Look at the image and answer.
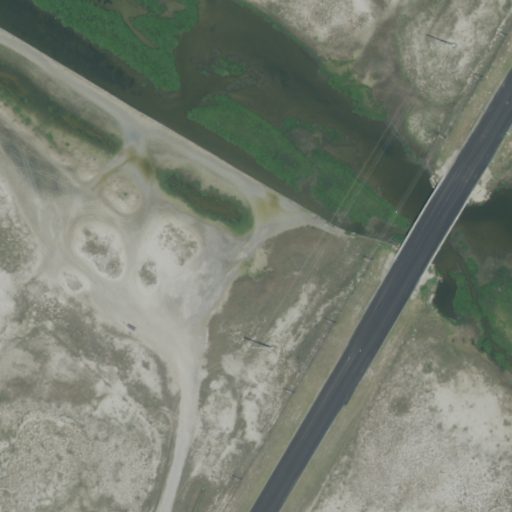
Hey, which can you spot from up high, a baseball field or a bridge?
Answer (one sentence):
There is a bridge in the scene.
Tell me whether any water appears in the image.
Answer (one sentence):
Yes, the picture does contain water.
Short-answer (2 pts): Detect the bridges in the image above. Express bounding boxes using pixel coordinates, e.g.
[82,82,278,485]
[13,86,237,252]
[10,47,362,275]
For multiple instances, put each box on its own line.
[396,170,477,277]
